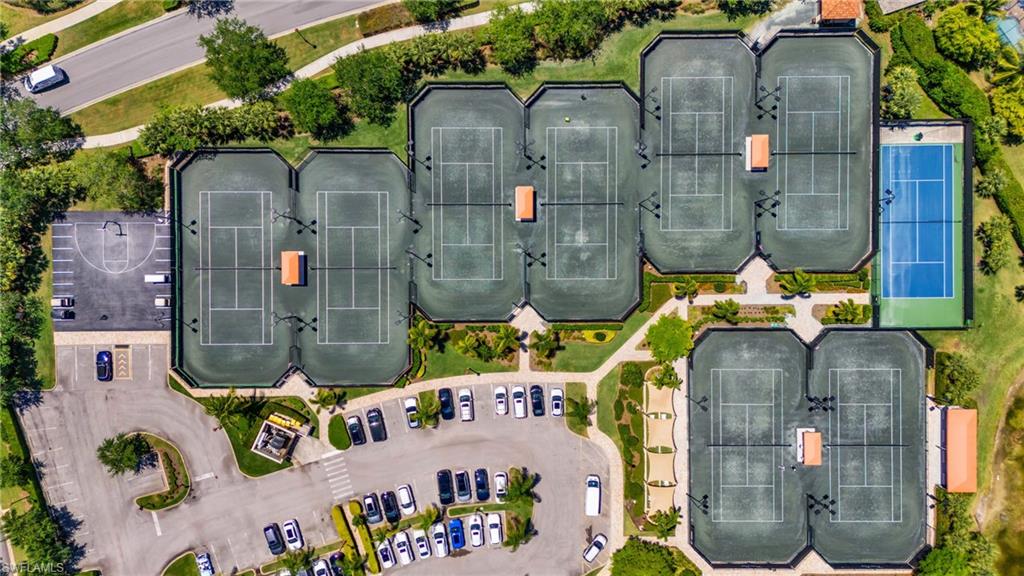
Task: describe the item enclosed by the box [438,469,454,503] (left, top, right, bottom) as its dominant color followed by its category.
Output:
black car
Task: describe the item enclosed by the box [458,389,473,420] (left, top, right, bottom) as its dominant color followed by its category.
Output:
white car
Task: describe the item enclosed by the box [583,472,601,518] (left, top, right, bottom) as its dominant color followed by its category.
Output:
white vehicle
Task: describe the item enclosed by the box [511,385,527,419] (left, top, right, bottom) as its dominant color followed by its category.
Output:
white car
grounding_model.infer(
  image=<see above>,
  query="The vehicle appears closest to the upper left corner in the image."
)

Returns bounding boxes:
[27,64,66,91]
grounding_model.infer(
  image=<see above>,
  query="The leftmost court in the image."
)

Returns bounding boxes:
[75,222,156,276]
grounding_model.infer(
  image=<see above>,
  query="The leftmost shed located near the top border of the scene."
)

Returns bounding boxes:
[810,0,863,30]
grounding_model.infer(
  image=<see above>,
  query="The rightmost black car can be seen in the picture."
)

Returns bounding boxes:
[530,384,544,415]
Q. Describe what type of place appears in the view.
sports ground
